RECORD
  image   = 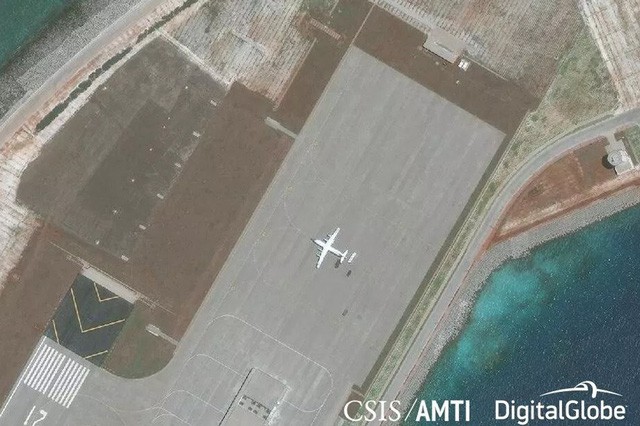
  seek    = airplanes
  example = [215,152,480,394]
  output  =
[311,227,348,267]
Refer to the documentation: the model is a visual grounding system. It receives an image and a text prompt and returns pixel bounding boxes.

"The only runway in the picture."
[0,334,103,426]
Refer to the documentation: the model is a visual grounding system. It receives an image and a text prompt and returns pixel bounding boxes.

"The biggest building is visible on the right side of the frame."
[424,27,464,62]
